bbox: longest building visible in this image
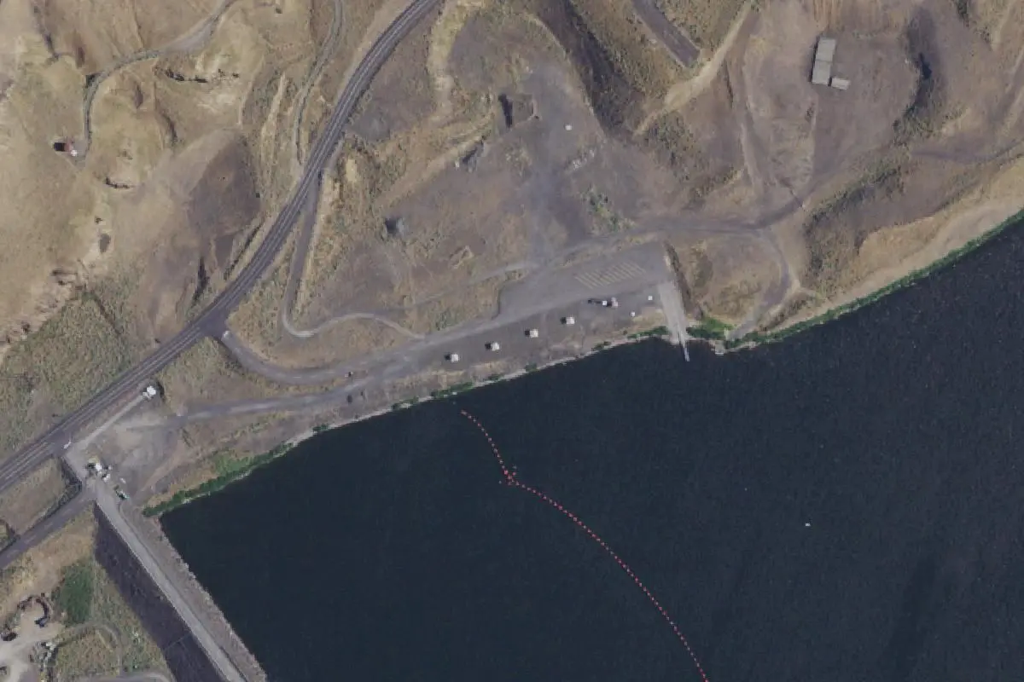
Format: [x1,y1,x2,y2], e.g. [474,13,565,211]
[813,36,837,84]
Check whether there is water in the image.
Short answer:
Yes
